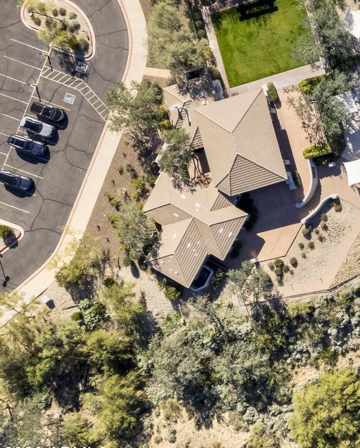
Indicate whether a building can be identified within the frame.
Yes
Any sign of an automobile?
Yes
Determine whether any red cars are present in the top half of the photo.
No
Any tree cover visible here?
Yes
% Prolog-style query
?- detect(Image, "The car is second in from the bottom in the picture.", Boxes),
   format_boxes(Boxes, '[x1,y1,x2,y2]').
[8,134,47,156]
